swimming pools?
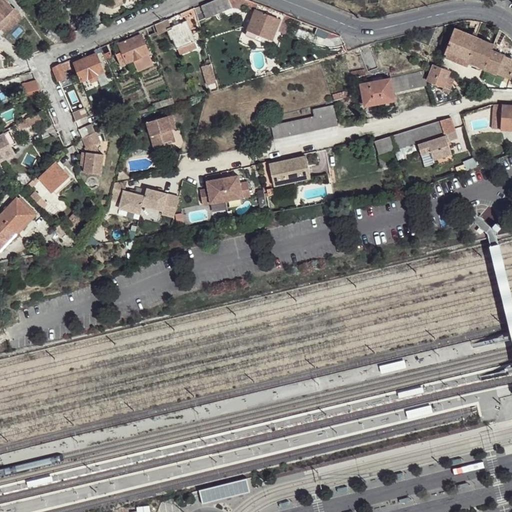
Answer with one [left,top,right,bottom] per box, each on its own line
[250,50,266,70]
[188,208,208,222]
[10,26,25,40]
[236,200,252,214]
[0,108,14,124]
[66,89,80,105]
[471,117,490,133]
[22,152,36,168]
[304,186,326,200]
[128,158,149,172]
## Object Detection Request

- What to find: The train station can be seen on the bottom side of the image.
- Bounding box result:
[0,332,512,512]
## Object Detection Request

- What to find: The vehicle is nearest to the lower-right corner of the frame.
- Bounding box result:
[453,462,486,475]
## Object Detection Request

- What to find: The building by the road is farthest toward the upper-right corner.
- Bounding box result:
[444,28,512,84]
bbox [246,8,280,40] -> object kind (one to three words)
house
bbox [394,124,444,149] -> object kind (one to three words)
building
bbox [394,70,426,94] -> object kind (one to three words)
building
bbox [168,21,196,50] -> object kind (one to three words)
house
